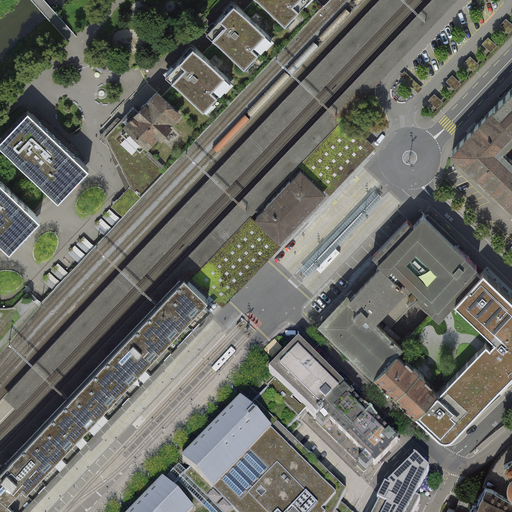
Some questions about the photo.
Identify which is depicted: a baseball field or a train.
train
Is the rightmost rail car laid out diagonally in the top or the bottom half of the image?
top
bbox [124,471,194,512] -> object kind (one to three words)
building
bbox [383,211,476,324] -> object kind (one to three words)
building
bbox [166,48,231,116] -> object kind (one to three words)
house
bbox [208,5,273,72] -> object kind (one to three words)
house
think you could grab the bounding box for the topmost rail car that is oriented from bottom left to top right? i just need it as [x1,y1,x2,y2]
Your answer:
[318,7,351,42]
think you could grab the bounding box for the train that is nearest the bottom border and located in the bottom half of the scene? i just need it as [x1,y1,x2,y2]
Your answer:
[212,345,236,370]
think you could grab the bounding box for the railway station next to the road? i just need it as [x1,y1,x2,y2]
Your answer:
[4,0,454,412]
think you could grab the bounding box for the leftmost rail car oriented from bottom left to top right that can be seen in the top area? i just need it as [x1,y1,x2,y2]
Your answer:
[214,114,250,152]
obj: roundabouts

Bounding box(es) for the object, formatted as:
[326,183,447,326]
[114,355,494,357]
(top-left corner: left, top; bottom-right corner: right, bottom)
[378,126,442,189]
